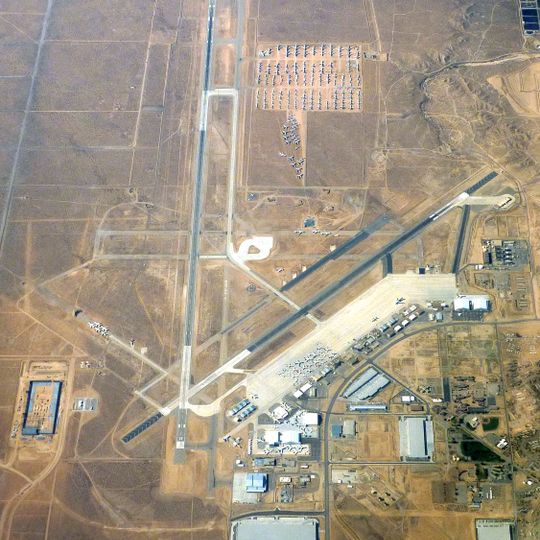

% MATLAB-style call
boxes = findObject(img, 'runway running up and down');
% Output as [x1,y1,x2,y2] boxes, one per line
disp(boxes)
[173,0,217,464]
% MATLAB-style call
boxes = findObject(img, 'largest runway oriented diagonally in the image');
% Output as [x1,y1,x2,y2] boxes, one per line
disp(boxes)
[121,175,496,443]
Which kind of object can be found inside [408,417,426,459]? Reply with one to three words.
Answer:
building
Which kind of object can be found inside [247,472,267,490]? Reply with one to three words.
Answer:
hangar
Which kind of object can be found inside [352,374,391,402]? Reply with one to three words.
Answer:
building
